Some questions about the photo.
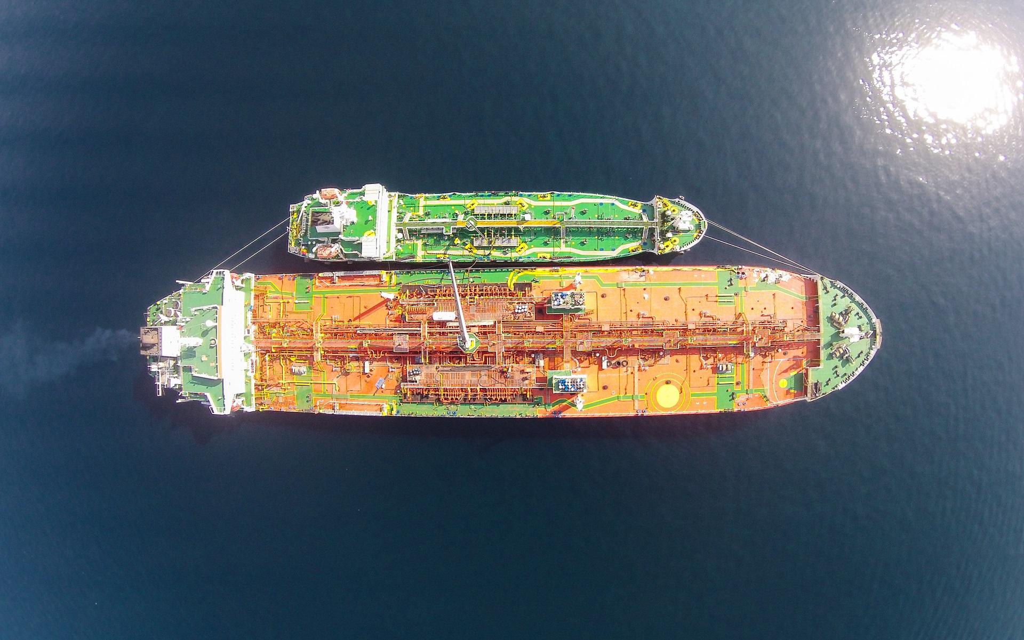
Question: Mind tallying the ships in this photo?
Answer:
2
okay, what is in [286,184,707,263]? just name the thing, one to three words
ship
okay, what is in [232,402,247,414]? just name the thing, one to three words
boat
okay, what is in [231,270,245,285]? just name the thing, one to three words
boat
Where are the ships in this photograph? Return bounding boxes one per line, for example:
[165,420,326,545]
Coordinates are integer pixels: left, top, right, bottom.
[138,259,883,417]
[286,184,707,263]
